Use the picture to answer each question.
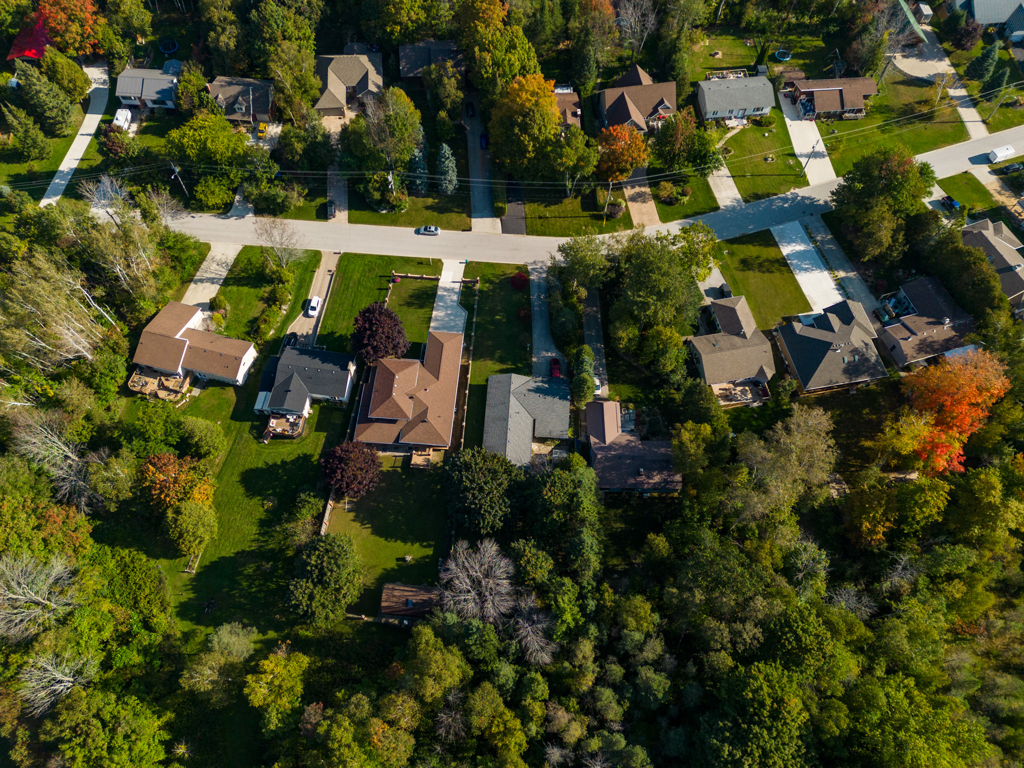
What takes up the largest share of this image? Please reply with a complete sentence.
What you mostly see from above here is trees.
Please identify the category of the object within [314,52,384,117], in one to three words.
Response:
house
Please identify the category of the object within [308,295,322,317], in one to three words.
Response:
car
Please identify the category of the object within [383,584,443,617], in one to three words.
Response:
shed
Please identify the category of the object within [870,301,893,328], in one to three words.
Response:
truck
